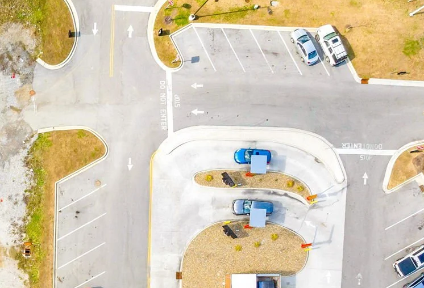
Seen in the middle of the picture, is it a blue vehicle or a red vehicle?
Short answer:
blue vehicle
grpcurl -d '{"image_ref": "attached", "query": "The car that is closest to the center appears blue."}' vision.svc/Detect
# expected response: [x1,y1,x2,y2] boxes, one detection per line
[232,146,272,166]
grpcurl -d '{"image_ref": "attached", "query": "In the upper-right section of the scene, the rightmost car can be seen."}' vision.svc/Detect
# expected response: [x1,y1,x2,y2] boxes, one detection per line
[316,24,349,68]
